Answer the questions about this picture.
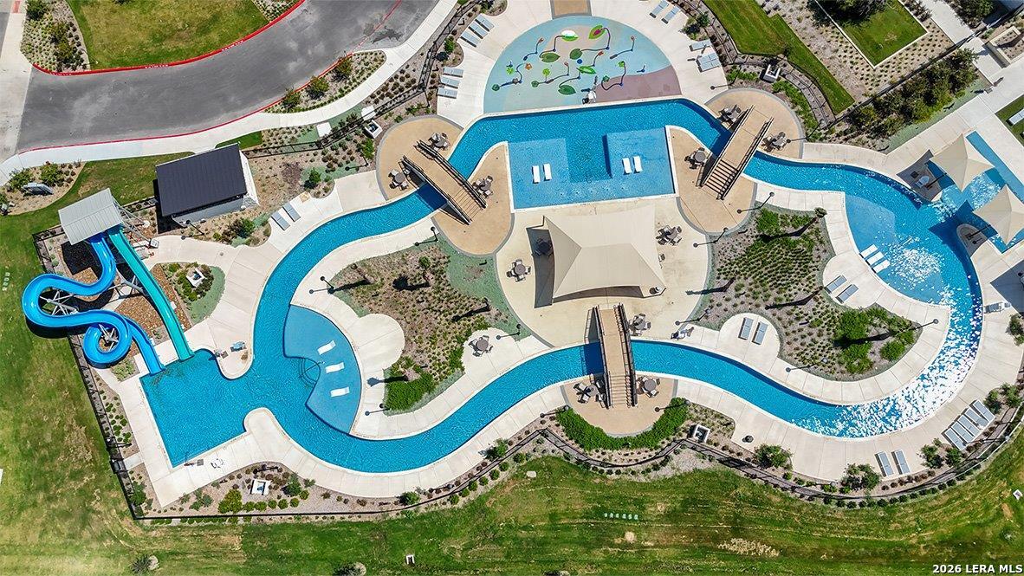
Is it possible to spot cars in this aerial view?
No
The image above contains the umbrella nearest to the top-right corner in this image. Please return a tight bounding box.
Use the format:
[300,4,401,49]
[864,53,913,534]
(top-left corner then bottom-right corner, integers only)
[925,133,994,192]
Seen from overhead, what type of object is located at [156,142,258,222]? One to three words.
building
